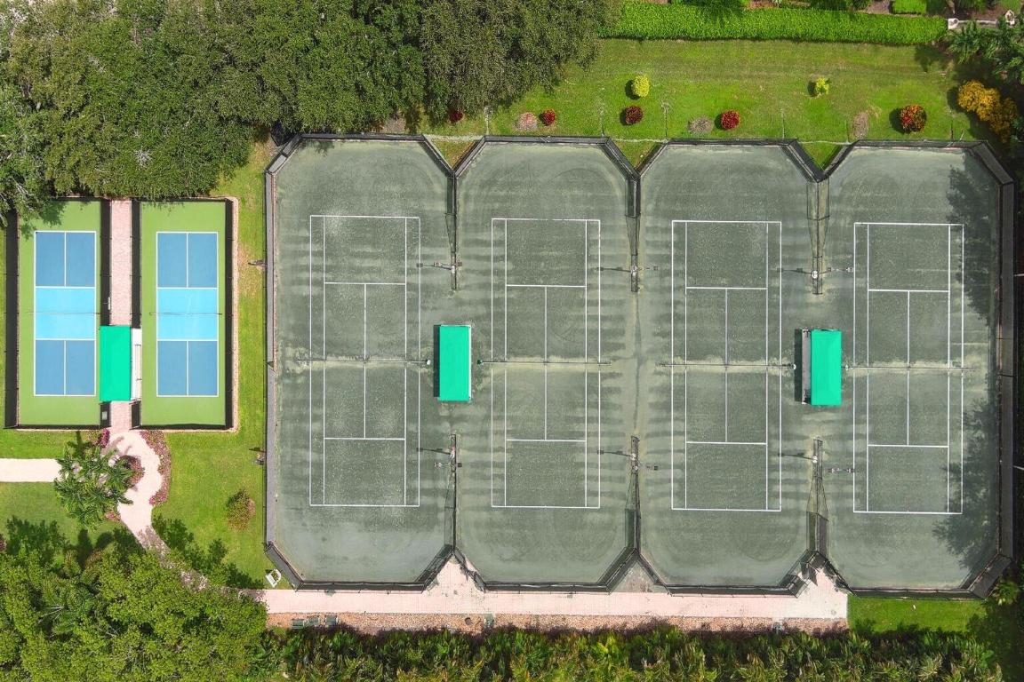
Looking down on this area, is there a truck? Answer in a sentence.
No, the frame has no truck in it.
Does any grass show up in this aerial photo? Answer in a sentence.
Yes, there's grass in this view.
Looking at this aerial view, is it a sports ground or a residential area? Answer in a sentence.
This looks like a sports ground.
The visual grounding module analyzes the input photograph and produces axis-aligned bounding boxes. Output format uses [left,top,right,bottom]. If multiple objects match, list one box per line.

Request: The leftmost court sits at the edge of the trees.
[19,201,110,426]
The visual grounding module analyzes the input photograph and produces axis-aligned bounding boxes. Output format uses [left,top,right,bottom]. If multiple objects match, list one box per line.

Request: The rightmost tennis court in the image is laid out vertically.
[816,148,996,589]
